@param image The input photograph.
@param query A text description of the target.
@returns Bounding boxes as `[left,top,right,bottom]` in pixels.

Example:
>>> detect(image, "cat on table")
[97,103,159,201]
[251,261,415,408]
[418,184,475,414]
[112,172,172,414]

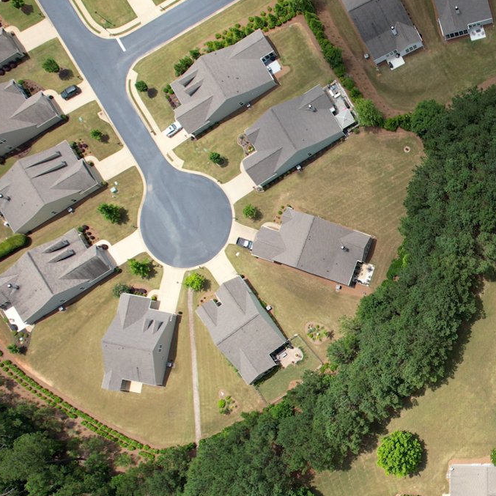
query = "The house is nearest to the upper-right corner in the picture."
[435,0,493,39]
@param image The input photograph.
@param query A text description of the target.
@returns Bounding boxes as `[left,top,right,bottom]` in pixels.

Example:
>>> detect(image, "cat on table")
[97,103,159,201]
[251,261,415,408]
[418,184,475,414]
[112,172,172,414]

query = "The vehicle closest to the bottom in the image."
[230,235,251,250]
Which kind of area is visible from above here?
residential area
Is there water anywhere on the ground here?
No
